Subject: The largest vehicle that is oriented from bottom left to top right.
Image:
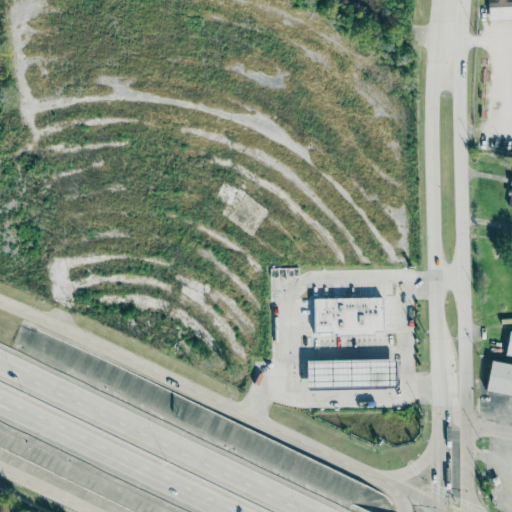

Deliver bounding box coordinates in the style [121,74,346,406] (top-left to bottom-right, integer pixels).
[254,363,272,386]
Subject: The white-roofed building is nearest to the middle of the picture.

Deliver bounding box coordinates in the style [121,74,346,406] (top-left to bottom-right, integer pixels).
[314,298,384,336]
